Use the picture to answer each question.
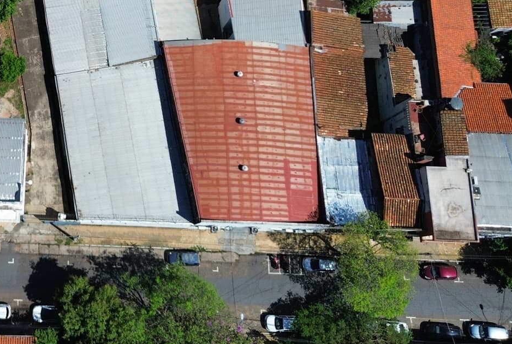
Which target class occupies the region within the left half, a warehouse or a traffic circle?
warehouse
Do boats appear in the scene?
No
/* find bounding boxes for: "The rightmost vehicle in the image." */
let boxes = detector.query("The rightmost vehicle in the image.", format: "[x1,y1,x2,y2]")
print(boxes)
[465,321,506,341]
